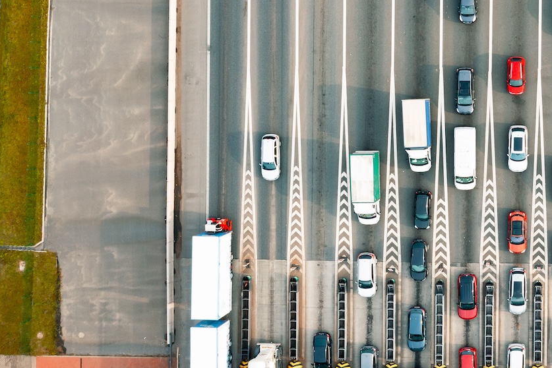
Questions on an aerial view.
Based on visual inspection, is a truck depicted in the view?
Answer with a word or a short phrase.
Yes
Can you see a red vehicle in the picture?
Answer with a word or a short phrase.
Yes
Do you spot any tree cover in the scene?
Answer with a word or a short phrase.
No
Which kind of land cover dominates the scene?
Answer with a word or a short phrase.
paved ground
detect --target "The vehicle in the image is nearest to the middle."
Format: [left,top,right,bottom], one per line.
[257,134,282,179]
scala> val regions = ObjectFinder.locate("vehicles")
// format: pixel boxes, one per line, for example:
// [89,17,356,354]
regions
[507,342,525,368]
[453,67,475,113]
[355,252,378,297]
[451,128,476,189]
[455,272,477,320]
[408,238,429,280]
[506,209,526,253]
[411,190,433,229]
[350,148,379,224]
[403,98,432,171]
[505,56,525,95]
[405,305,427,350]
[207,214,234,233]
[456,0,478,24]
[458,345,477,368]
[359,344,379,368]
[506,267,527,313]
[310,331,334,368]
[257,134,282,179]
[191,320,230,368]
[506,125,527,171]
